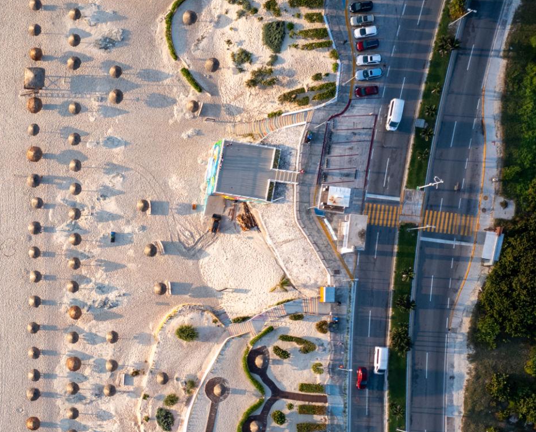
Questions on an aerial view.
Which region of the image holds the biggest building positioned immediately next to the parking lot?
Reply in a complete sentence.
Look in the center portion of the view to spot the biggest building positioned immediately next to the parking lot.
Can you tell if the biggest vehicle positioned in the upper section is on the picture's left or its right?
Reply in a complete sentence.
The biggest vehicle positioned in the upper section sits on the right side.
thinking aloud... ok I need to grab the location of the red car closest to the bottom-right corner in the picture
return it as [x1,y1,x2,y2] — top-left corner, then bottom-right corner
[355,367,369,390]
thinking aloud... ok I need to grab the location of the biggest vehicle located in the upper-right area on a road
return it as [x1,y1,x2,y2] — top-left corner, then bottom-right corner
[383,97,405,133]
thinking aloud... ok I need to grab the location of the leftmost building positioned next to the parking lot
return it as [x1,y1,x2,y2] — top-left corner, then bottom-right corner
[206,139,298,203]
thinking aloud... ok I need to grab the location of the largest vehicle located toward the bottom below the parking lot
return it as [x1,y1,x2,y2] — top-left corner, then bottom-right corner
[371,346,387,374]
